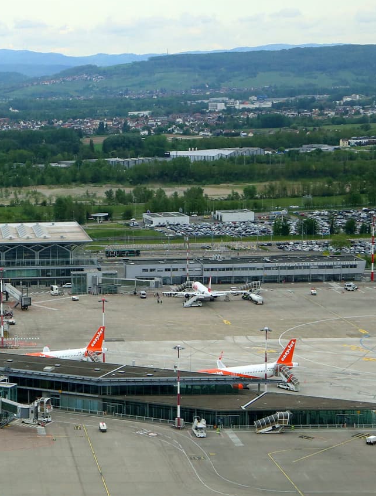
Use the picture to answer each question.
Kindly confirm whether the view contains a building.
Yes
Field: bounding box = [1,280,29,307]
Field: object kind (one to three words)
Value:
jet bridge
